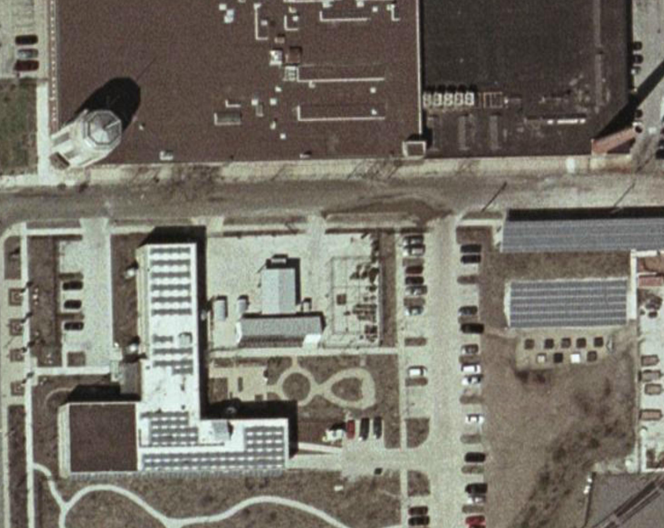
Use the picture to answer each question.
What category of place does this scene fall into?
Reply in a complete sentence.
What you see here is an industrial area.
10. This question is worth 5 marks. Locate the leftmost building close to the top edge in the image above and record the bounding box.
[45,0,422,172]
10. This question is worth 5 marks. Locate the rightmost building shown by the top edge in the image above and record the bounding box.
[418,0,631,161]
